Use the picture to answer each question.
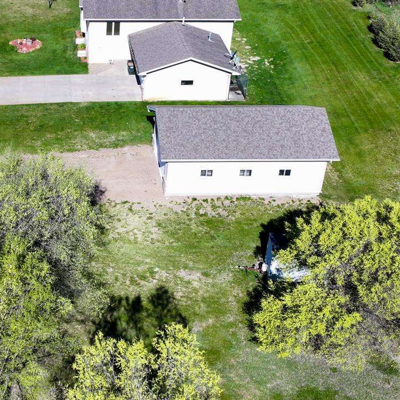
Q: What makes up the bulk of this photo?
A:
grass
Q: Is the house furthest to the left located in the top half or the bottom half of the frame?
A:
top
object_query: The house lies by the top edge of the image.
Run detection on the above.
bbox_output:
[78,0,241,99]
